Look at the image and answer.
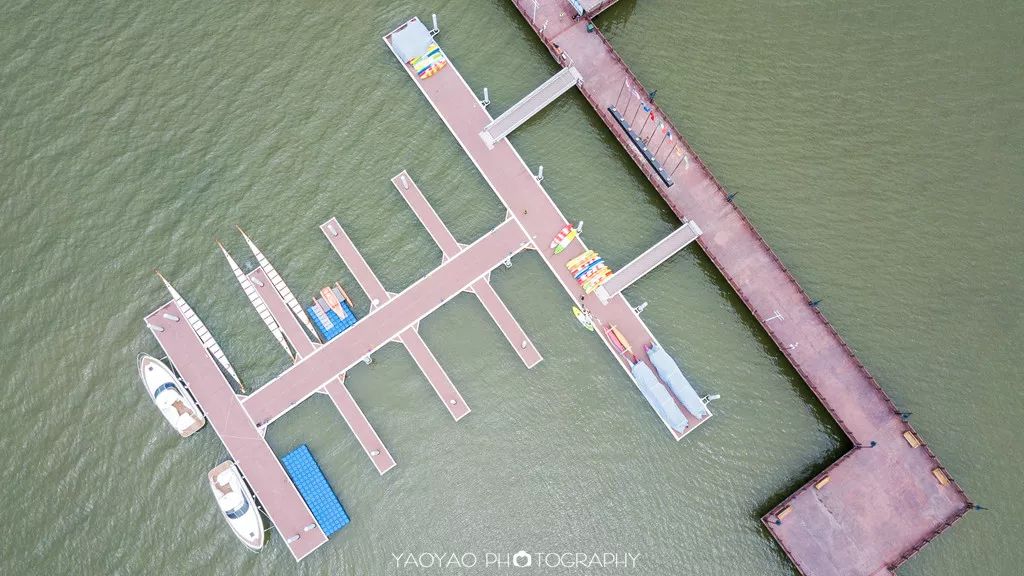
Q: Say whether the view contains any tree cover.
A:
No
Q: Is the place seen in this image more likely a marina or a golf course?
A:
marina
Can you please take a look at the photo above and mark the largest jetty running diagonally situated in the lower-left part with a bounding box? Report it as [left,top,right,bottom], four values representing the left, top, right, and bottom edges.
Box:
[145,301,329,561]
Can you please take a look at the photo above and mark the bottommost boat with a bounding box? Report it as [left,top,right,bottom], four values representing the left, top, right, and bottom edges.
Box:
[209,459,263,554]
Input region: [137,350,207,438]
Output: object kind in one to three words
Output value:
boat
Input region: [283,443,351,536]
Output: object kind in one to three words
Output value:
pier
